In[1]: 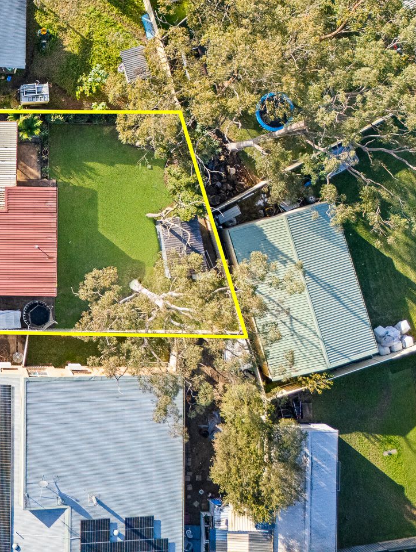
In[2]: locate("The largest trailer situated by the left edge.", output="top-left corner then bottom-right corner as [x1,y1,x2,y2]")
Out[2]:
[20,78,63,106]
